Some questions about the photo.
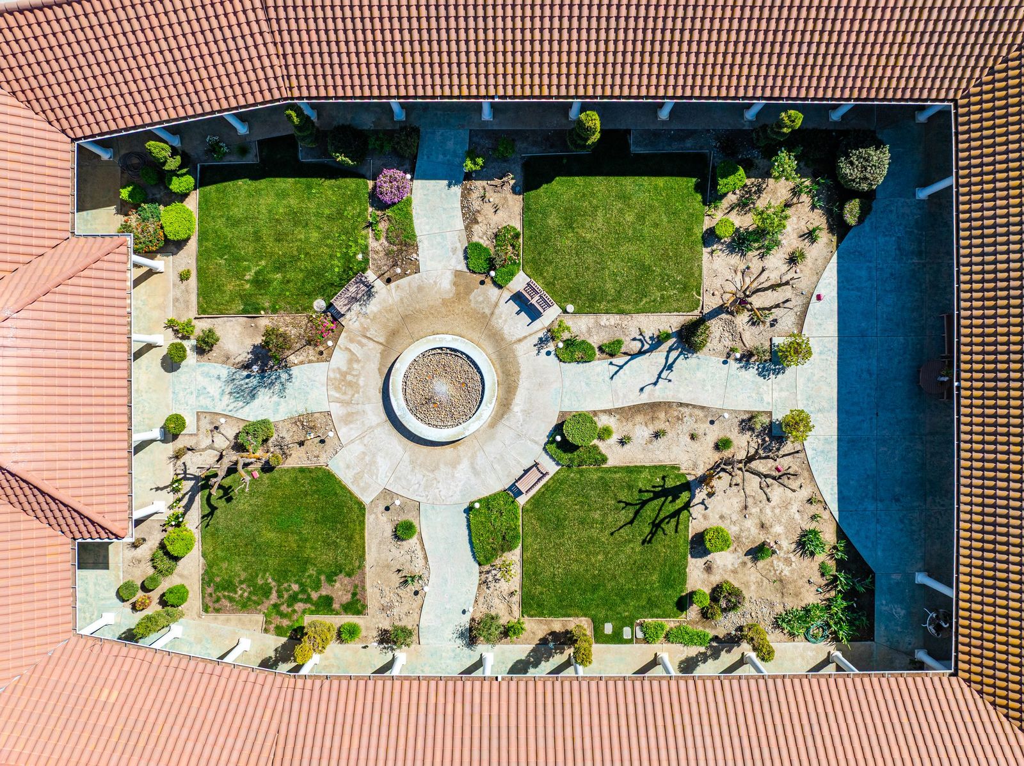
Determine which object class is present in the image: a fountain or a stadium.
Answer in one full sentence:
This aerial view contains a fountain.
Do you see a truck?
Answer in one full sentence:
No, I can't see a single truck in this photo.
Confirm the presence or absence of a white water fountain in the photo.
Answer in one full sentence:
Yes, you can see a white water fountain in this photo.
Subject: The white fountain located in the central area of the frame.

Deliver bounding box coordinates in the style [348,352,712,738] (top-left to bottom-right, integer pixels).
[390,335,497,442]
